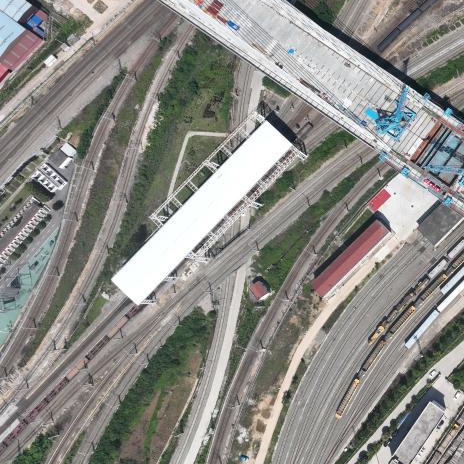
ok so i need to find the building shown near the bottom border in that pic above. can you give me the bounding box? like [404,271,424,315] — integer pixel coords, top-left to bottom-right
[389,396,447,464]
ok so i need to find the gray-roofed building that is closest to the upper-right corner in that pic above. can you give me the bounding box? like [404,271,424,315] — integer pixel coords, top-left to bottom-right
[416,199,462,245]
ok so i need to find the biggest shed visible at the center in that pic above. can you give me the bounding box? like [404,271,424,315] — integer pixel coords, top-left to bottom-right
[110,109,312,317]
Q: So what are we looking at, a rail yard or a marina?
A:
rail yard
